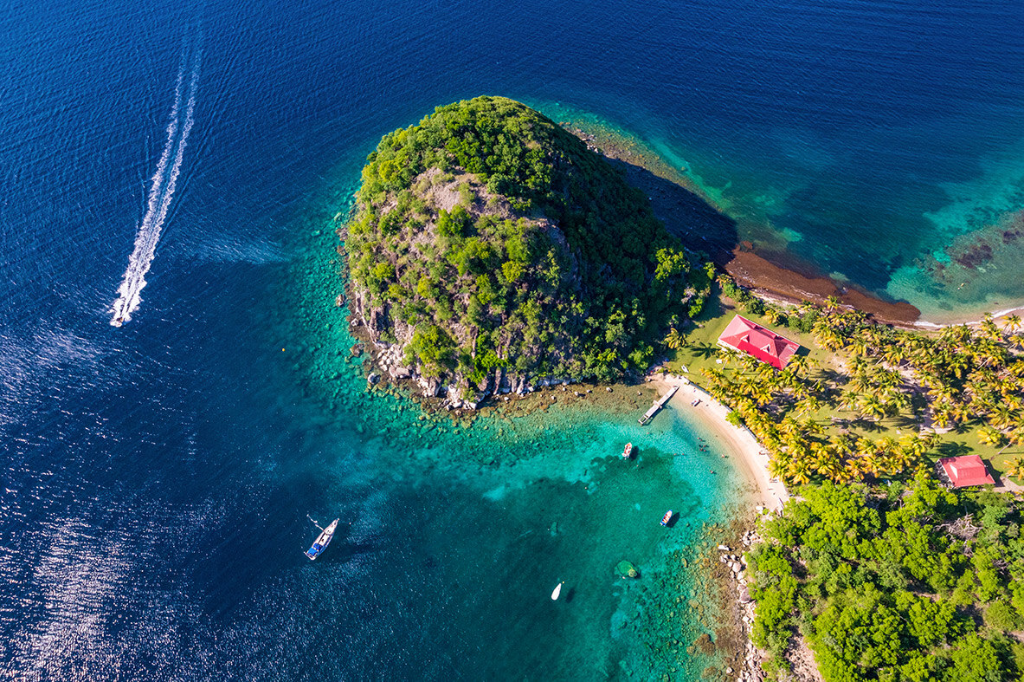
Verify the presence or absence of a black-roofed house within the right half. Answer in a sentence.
No, there is no black-roofed house within the right half.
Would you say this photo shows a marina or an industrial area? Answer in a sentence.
The area seen from above is a marina.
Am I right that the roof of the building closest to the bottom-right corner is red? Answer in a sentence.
Yes, red is the color of the roof of the building closest to the bottom-right corner.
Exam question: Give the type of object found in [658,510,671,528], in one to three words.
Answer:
boat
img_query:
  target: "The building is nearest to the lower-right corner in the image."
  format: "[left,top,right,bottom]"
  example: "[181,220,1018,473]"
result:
[934,454,996,491]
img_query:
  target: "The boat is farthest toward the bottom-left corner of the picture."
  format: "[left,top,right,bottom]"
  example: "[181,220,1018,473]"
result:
[299,506,340,562]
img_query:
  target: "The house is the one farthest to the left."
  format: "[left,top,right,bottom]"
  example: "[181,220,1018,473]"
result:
[716,315,799,377]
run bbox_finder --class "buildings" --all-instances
[716,315,799,377]
[934,454,996,491]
